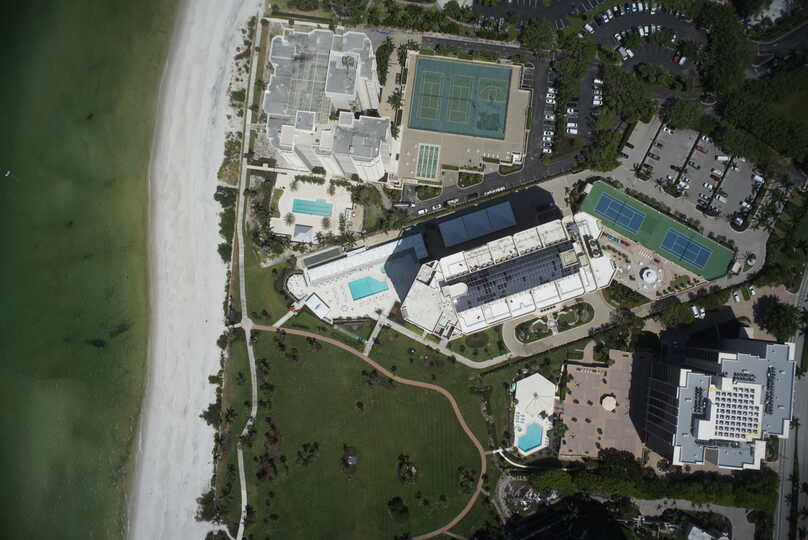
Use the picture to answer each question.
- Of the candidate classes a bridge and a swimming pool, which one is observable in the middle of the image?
swimming pool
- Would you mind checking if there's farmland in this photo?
No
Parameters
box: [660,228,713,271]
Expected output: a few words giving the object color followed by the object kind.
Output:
blue tennis court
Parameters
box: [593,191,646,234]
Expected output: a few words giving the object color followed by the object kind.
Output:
blue tennis court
